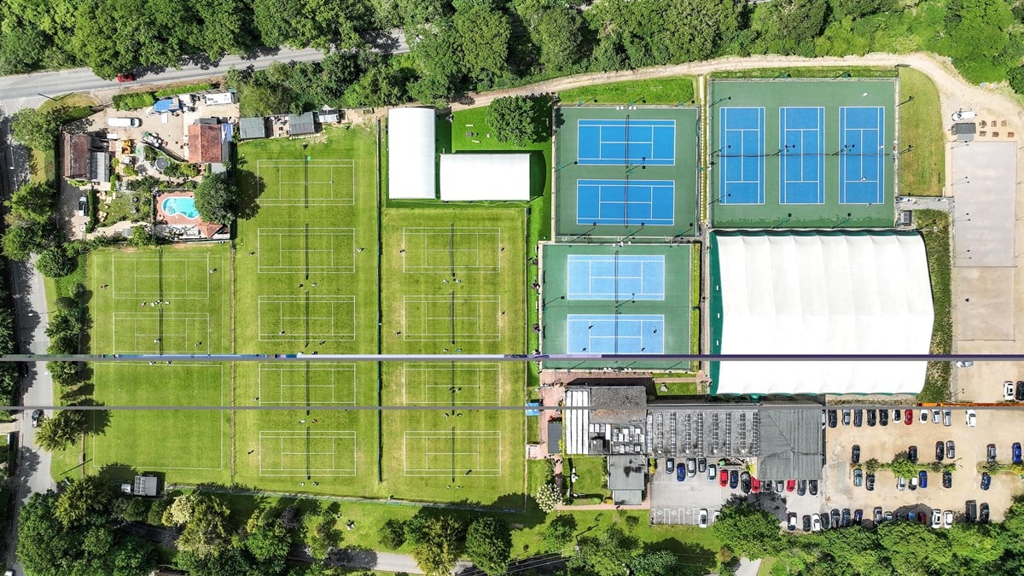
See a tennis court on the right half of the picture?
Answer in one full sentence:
Yes, I can see a tennis court on the right half of the picture.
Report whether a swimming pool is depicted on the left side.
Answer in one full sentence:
Yes, a swimming pool can be seen on the left side.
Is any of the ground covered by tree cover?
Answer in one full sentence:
Yes, there is tree cover in the image.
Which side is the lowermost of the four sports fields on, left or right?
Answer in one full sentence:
The lowermost of the four sports fields sits on the left side.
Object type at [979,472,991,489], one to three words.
vehicle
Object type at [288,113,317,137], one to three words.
shed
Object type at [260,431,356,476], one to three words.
tennis court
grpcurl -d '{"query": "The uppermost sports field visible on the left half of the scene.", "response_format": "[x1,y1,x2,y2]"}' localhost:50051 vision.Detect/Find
[95,255,223,360]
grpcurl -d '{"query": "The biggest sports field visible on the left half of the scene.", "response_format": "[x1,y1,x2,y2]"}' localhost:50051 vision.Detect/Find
[94,364,222,469]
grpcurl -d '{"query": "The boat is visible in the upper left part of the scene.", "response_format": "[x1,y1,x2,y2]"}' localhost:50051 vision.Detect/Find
[156,99,181,112]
